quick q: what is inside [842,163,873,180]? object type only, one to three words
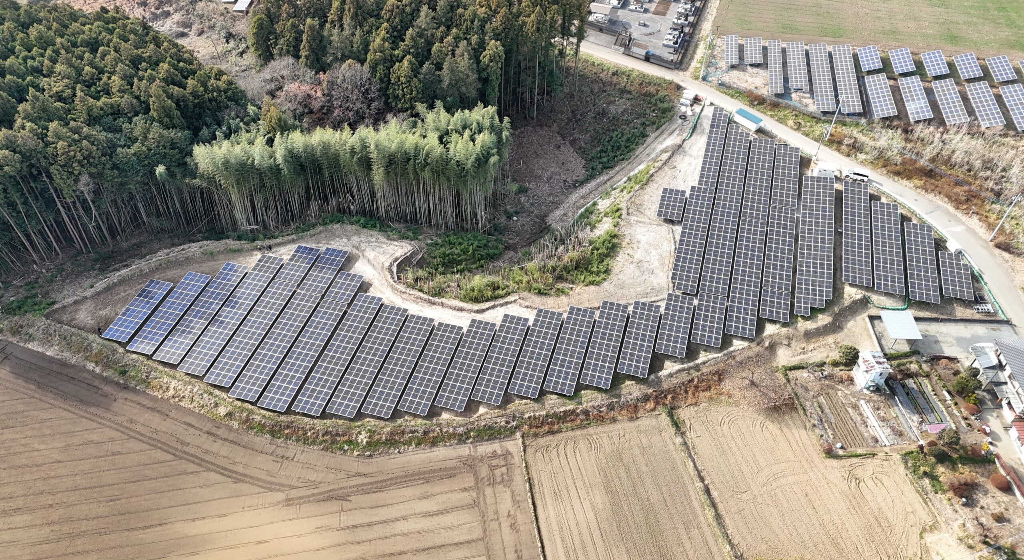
vehicle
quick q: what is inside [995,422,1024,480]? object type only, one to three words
shed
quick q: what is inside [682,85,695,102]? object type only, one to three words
vehicle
